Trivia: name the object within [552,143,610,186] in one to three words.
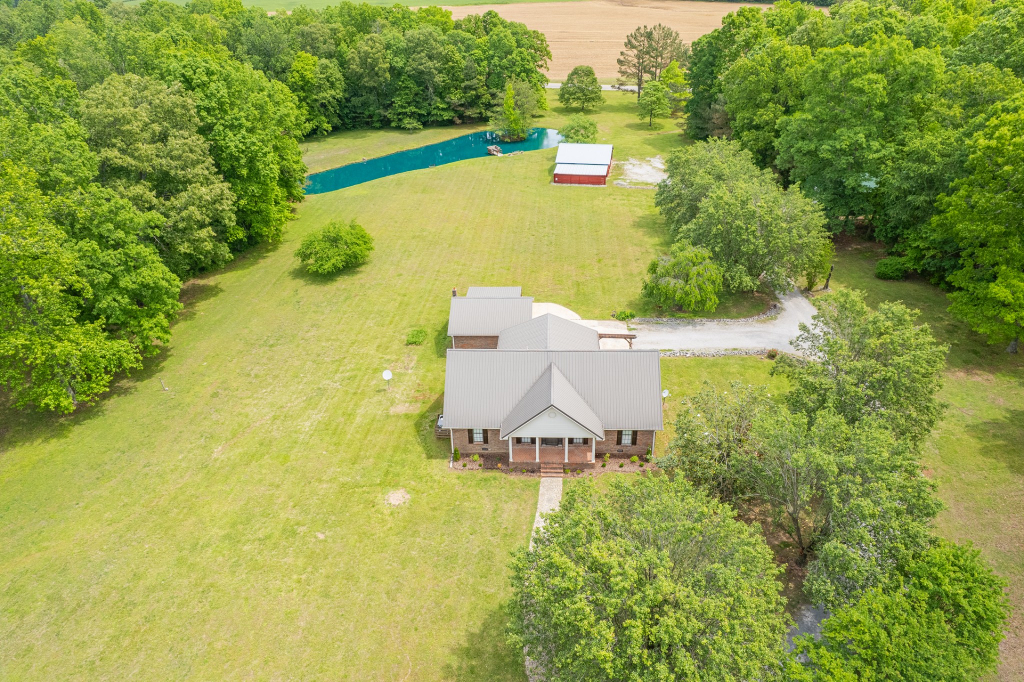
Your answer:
barn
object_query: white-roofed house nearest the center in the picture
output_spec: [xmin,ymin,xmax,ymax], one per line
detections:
[442,284,664,478]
